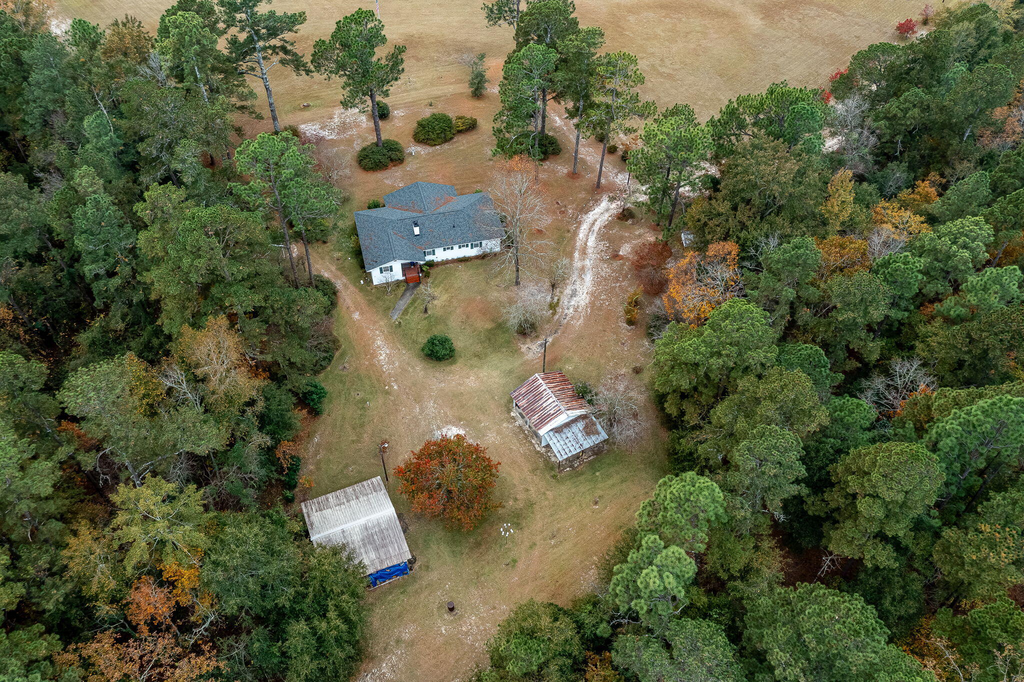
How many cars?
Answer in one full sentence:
There are no cars in this view.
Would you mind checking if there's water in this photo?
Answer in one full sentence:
No, there's no water in this view.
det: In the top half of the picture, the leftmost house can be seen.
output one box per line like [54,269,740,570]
[354,183,507,284]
